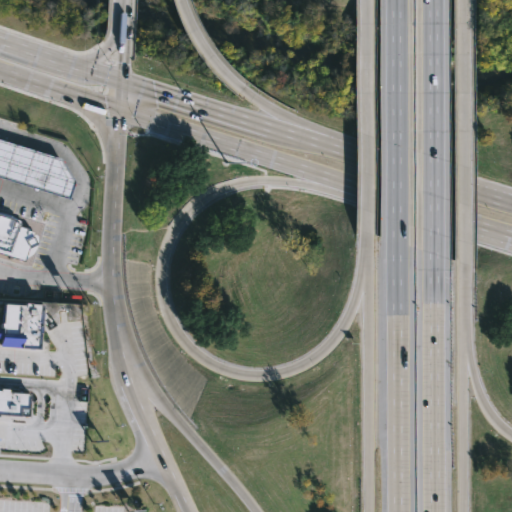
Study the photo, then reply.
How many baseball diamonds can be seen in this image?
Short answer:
0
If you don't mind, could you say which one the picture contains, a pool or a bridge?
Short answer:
bridge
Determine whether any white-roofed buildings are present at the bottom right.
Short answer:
No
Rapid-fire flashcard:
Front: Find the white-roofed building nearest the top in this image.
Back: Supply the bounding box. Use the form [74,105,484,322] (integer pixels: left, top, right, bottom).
[0,139,75,198]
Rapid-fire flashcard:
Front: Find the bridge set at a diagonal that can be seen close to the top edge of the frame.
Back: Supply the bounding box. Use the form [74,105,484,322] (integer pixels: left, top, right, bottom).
[175,0,330,128]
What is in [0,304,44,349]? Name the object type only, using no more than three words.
building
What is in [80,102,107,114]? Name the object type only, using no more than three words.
vehicle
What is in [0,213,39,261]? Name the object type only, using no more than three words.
building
